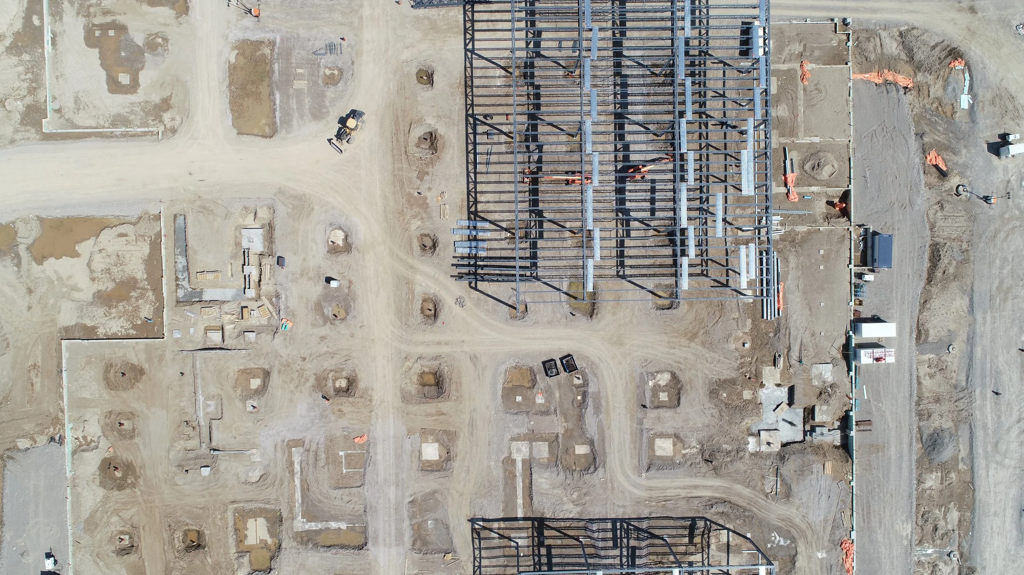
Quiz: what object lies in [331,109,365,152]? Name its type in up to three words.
work vehicle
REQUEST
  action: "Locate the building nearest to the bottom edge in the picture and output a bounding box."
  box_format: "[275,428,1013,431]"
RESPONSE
[520,539,776,575]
